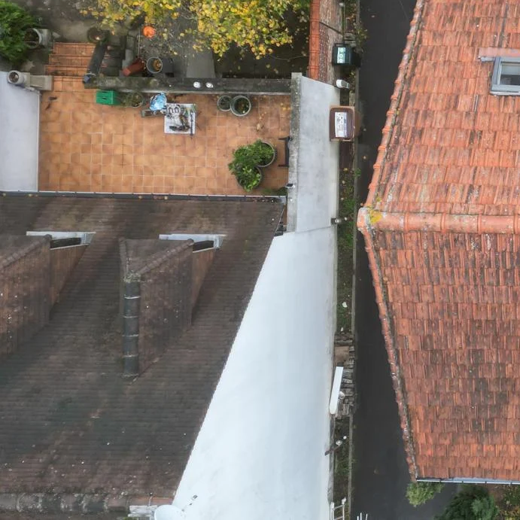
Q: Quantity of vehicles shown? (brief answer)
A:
0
